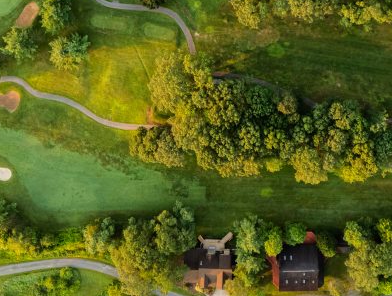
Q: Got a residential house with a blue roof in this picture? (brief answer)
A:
No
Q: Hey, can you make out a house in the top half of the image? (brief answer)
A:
No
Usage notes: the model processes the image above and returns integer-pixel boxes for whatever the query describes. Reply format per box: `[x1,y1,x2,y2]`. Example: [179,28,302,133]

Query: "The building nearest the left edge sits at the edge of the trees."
[184,232,233,293]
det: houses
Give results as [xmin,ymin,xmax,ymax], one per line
[268,230,319,290]
[184,232,233,293]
